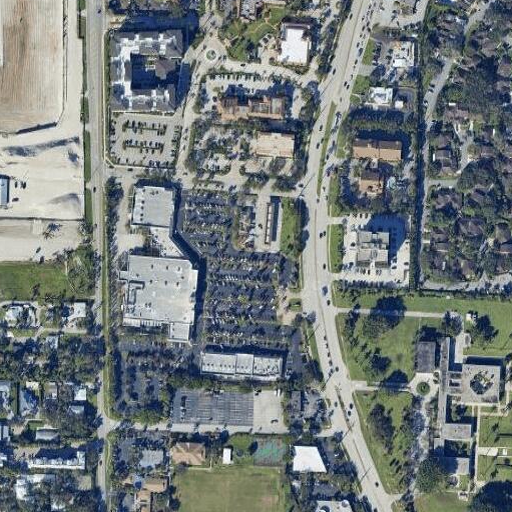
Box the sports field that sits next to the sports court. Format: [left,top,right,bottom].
[176,466,283,512]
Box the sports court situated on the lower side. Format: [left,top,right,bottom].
[254,438,285,466]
